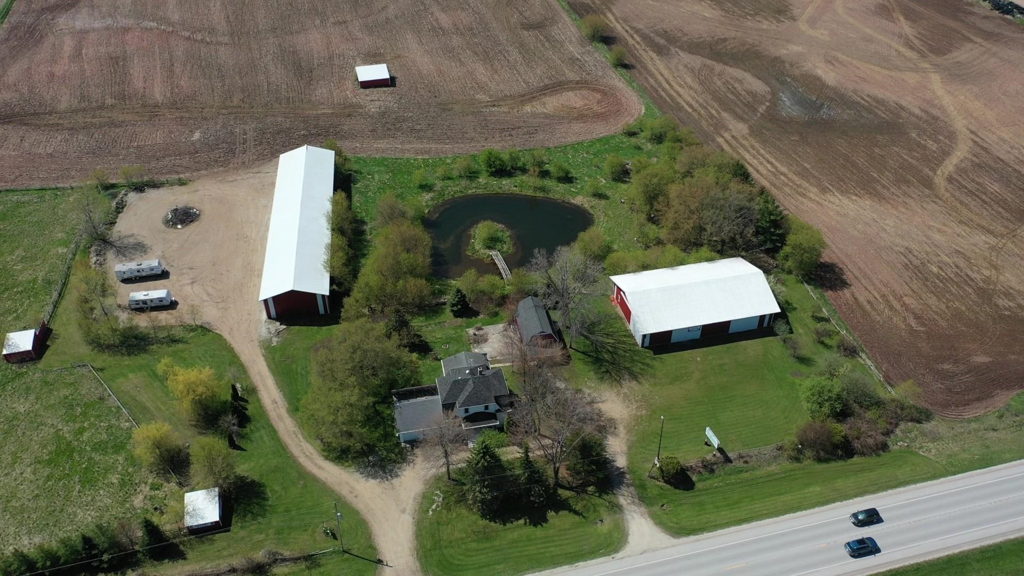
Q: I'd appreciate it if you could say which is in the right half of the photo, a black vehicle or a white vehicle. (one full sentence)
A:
Visible in the right half of the photo is a black vehicle.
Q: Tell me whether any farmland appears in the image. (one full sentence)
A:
Yes, some farmland is visible.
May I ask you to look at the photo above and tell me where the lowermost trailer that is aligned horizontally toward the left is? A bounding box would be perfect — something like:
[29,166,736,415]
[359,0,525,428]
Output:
[127,285,177,307]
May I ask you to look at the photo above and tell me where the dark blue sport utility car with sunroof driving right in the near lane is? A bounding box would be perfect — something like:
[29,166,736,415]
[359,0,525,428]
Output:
[846,536,880,557]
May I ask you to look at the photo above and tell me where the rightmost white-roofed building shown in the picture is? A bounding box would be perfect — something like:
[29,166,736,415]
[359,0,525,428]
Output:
[610,258,781,349]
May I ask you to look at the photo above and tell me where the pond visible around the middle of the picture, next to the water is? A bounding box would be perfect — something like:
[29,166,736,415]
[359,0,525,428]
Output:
[422,193,593,281]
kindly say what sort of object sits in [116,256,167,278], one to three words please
trailer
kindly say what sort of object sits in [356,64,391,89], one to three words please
shed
